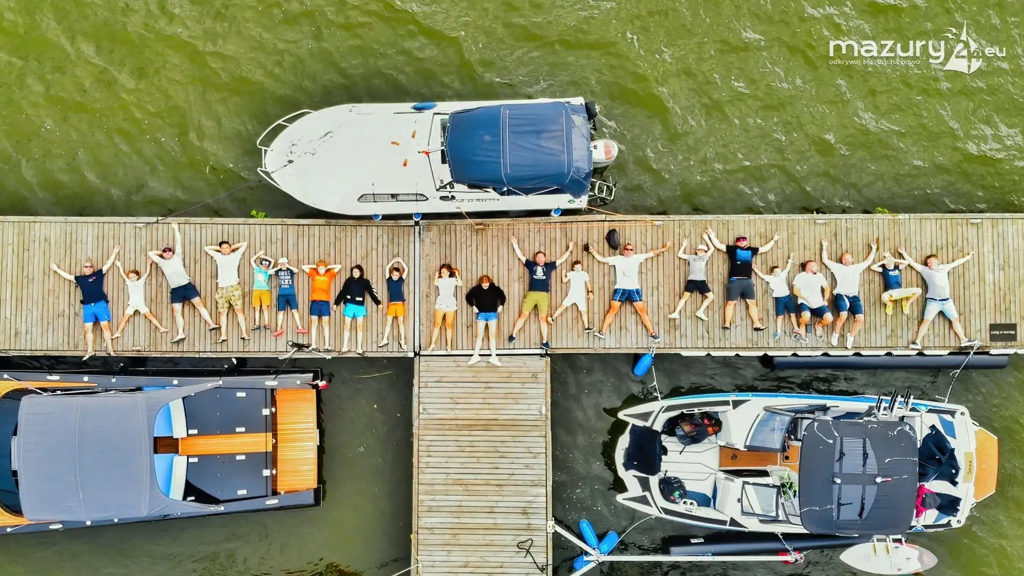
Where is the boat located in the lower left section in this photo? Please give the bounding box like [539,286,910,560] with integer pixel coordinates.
[0,368,322,534]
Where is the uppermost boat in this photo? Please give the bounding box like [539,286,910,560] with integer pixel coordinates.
[257,95,618,217]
